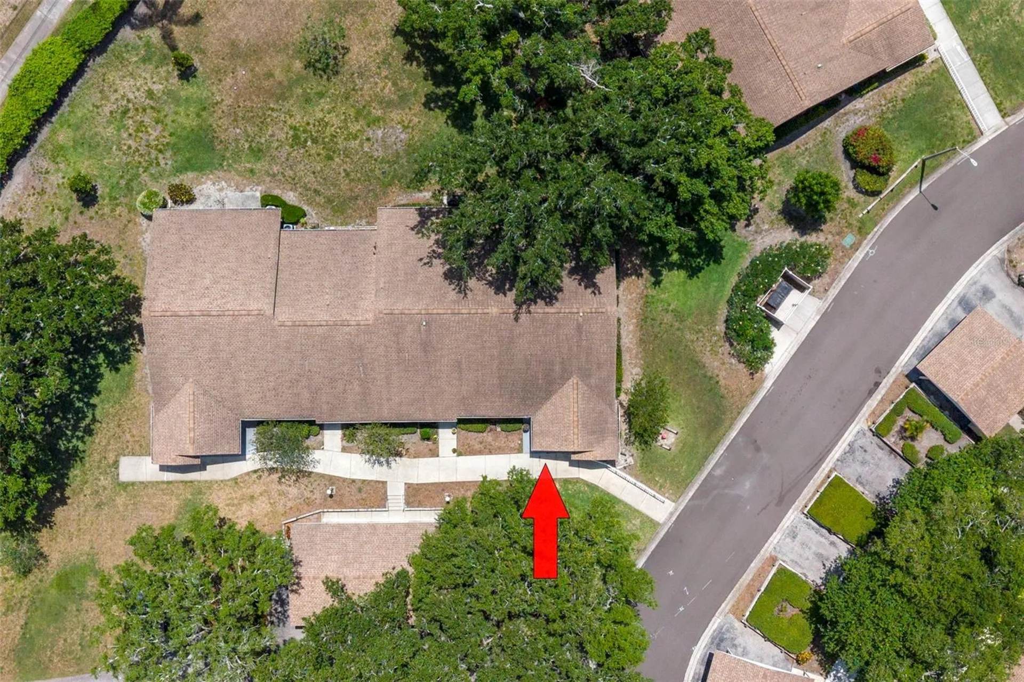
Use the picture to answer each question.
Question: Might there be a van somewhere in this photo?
No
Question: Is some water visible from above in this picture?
No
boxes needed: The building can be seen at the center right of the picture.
[915,306,1024,439]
